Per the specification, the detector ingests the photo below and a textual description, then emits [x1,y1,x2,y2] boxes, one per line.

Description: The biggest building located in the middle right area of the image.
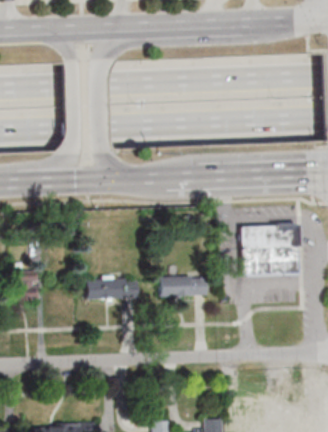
[242,224,300,278]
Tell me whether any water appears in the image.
No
